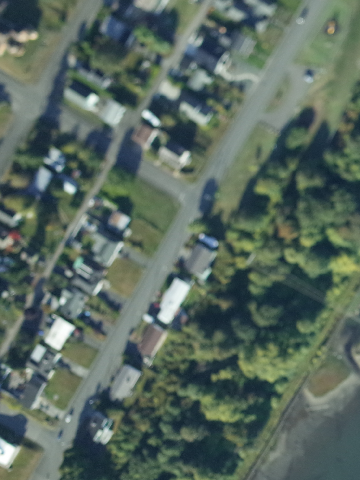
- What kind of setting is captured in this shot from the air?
residential area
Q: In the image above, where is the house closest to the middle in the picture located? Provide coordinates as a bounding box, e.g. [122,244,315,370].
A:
[186,244,217,275]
